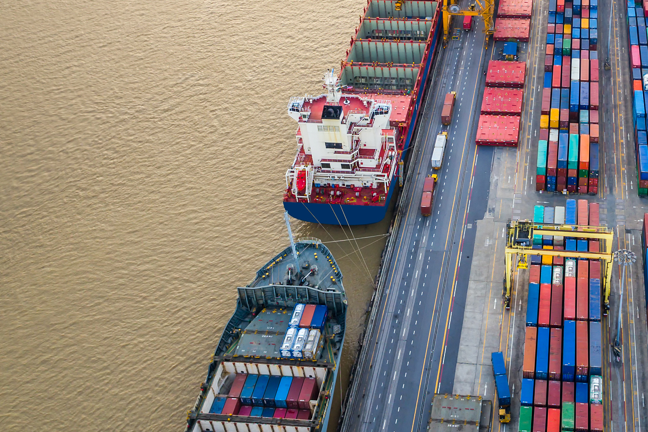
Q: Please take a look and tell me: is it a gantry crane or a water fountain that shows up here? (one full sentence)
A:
It is a gantry crane that can be seen here.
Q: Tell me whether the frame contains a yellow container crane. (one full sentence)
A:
Yes, this view includes a yellow container crane.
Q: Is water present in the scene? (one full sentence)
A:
Yes, there's water in this view.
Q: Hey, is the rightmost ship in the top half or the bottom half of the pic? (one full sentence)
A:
The rightmost ship is in the top half of the image.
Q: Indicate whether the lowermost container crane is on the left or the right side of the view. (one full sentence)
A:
The lowermost container crane is on the right side of the image.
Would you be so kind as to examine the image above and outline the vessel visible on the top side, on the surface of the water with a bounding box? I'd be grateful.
[284,0,448,227]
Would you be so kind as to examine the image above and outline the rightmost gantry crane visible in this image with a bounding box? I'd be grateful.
[499,218,616,317]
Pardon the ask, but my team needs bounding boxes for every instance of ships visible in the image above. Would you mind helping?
[284,0,448,227]
[186,212,349,432]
